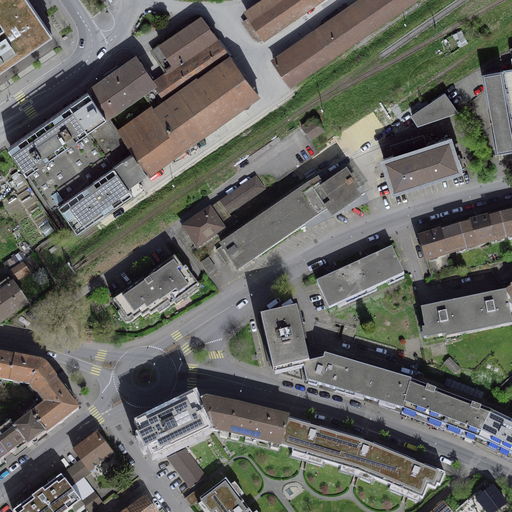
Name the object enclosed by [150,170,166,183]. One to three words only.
vehicle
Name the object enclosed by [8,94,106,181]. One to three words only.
building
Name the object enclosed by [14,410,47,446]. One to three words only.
house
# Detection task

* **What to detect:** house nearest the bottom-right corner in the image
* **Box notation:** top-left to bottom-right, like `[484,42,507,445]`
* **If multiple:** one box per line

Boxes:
[454,484,511,512]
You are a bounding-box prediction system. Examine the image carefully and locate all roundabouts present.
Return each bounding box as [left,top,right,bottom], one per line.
[130,362,160,390]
